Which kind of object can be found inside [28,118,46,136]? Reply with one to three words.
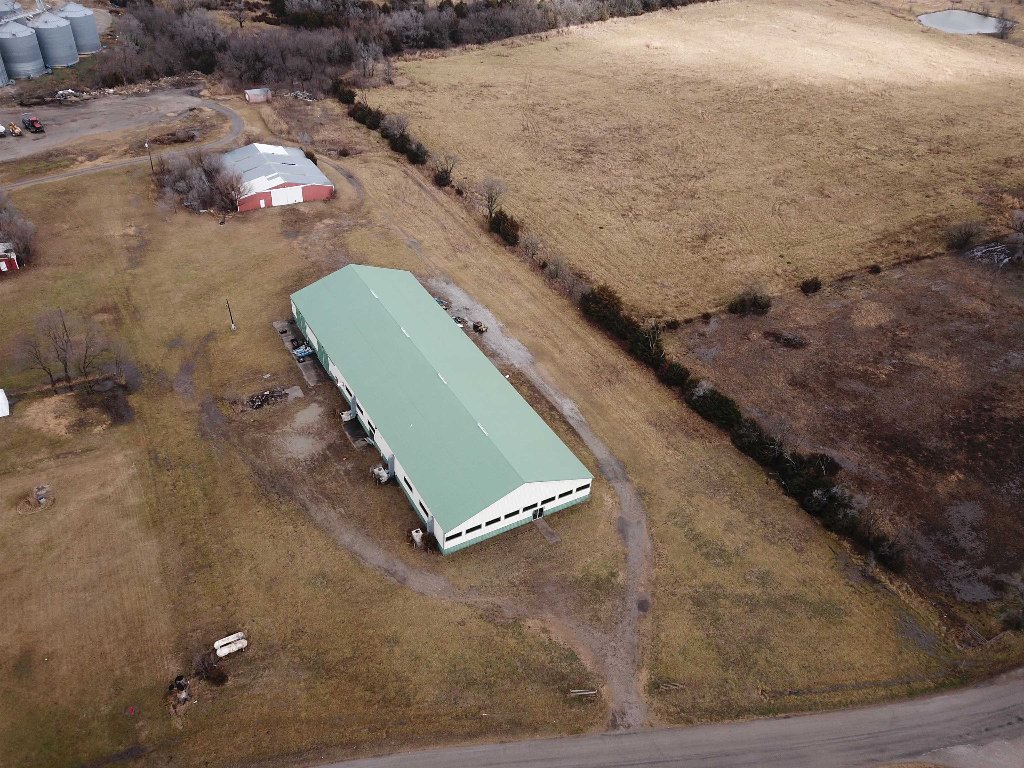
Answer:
work vehicle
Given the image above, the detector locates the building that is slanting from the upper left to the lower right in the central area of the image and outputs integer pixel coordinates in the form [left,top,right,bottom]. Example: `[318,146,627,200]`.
[288,263,595,556]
